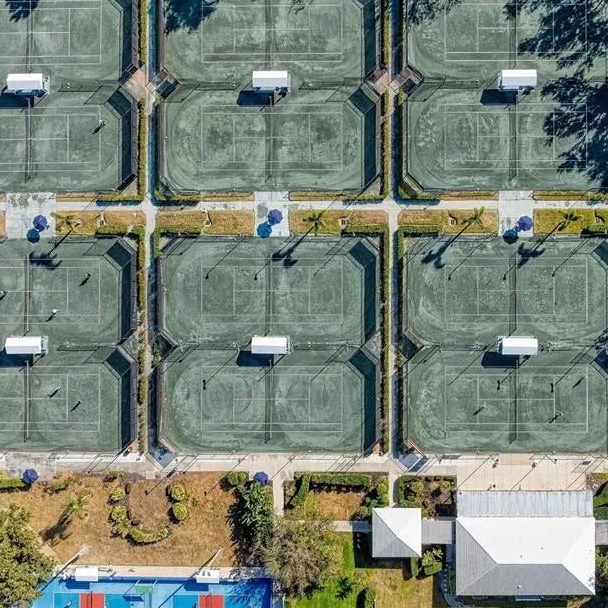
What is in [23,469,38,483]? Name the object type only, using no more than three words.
umbrella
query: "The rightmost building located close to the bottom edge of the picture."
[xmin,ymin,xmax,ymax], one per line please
[455,487,595,595]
